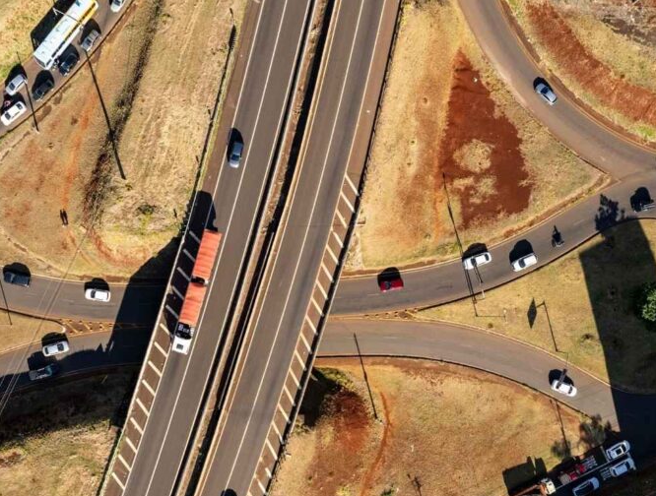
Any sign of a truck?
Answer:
Yes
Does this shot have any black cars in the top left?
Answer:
Yes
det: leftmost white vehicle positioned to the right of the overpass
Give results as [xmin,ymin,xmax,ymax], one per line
[463,252,489,269]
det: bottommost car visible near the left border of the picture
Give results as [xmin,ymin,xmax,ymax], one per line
[28,363,56,380]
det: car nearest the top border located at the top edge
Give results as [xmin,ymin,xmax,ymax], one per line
[108,0,129,16]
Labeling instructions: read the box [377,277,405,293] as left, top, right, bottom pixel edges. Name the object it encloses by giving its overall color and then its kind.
red car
